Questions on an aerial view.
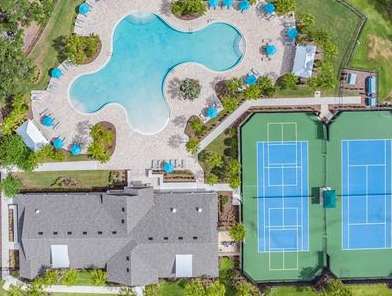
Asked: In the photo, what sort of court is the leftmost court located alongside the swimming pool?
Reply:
tennis court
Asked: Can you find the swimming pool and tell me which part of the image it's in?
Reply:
top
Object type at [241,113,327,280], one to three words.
tennis court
